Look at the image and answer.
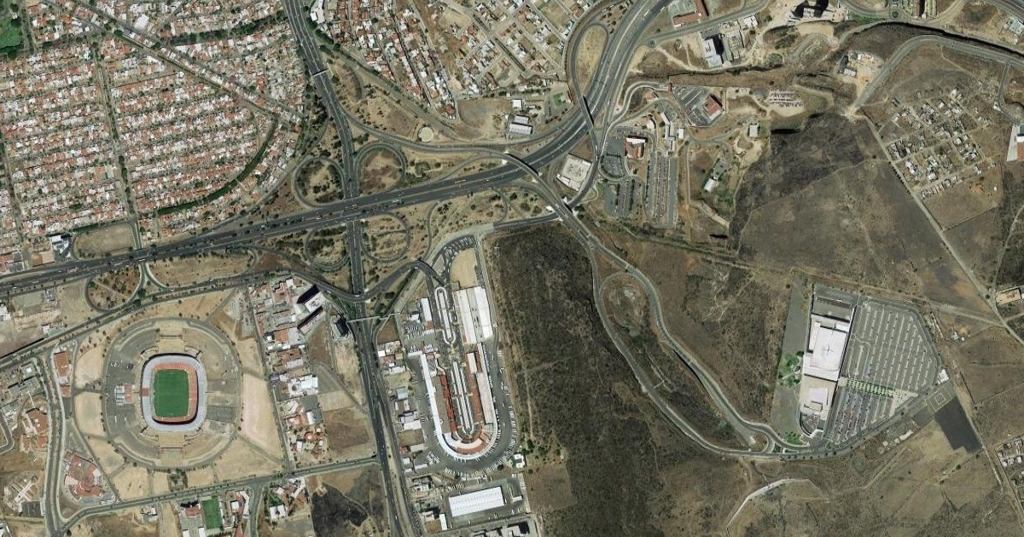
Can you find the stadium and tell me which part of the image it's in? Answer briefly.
bottom left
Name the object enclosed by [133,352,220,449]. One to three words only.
stadium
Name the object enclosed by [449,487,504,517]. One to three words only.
building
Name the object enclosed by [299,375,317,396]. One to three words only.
house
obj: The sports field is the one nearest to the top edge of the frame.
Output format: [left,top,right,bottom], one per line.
[154,369,189,418]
